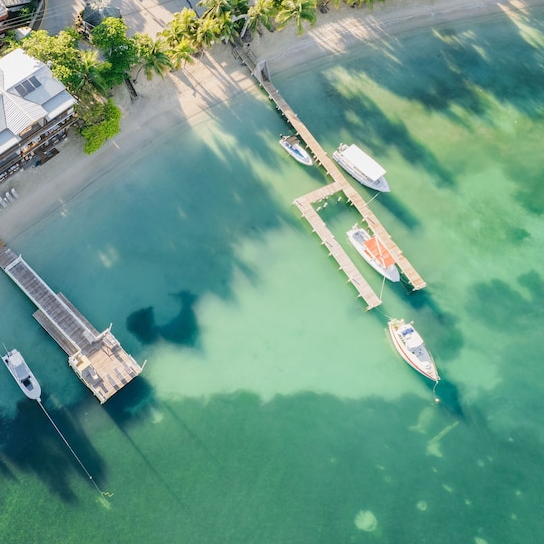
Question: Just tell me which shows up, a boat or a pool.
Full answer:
The one in the frame is a boat.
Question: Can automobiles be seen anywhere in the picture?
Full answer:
No, the frame has no automobile in it.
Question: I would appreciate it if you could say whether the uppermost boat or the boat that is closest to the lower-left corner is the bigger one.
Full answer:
Compared with the uppermost boat, the boat that is closest to the lower-left corner is the larger one.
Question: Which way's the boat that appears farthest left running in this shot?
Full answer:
What the image shows is the boat that appears farthest left lying on a diagonal.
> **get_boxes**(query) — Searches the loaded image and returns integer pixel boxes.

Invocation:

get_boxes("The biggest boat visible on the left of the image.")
[1,343,44,402]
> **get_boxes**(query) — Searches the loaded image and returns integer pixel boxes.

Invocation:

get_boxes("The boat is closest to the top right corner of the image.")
[332,147,397,198]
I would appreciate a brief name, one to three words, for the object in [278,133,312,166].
boat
